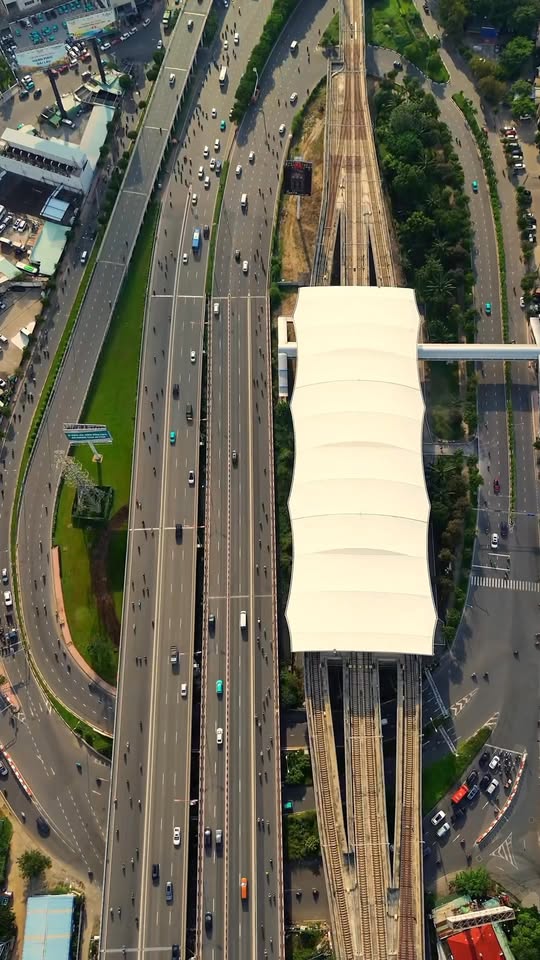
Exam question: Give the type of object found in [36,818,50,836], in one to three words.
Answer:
car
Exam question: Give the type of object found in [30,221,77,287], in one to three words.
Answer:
shed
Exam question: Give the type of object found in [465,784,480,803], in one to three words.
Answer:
vehicle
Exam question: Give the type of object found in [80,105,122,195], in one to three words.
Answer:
building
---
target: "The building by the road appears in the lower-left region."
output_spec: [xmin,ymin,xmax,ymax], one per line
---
[22,891,82,960]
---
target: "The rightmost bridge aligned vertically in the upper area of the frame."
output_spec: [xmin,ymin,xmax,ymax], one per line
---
[310,0,397,286]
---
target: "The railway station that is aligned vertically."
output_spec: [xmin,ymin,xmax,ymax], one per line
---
[278,280,438,654]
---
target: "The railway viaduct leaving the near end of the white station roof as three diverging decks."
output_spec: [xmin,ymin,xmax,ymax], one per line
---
[304,652,426,960]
